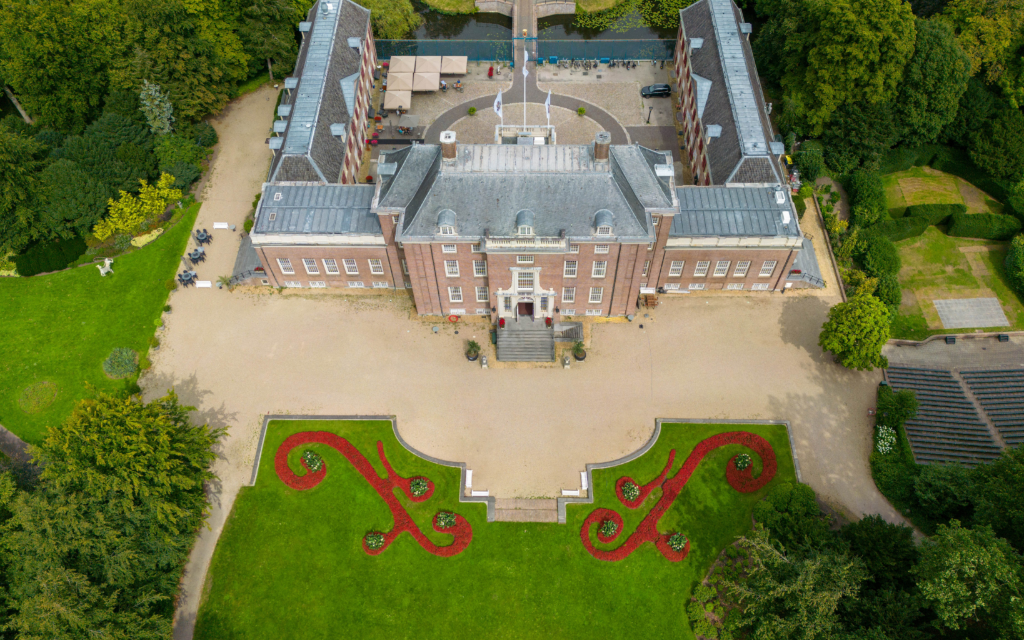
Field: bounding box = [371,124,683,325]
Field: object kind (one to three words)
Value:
building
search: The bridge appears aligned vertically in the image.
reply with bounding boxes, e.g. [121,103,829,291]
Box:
[512,0,537,63]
